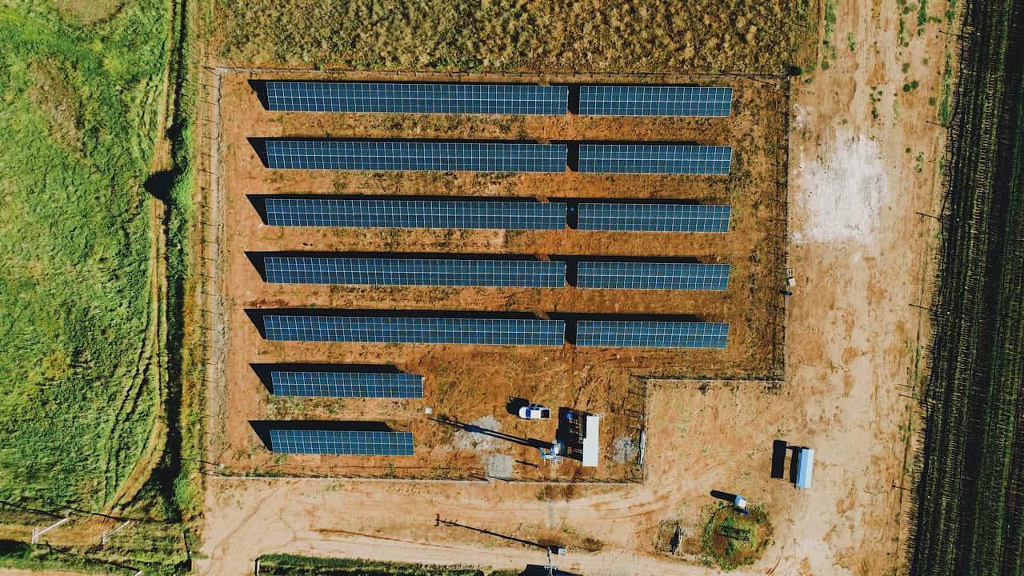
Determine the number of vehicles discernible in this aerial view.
one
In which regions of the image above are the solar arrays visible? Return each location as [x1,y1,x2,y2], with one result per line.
[266,141,568,172]
[267,83,569,114]
[264,316,565,345]
[577,203,731,232]
[270,430,413,455]
[266,199,568,229]
[578,145,732,174]
[264,257,567,287]
[579,86,732,116]
[577,321,729,348]
[272,372,424,398]
[576,262,730,290]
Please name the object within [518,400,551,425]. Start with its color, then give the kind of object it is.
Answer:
white truck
